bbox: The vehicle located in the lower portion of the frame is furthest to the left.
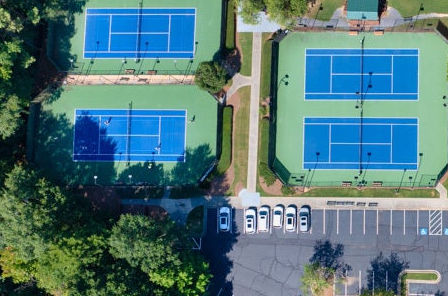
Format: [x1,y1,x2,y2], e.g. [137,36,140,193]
[219,207,231,231]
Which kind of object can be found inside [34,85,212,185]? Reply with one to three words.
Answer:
tennis court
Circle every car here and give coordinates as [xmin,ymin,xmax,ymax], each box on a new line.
[285,207,297,231]
[219,207,231,231]
[274,206,284,228]
[258,206,270,231]
[299,207,310,231]
[245,210,257,234]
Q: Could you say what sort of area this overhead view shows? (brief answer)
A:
sports ground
